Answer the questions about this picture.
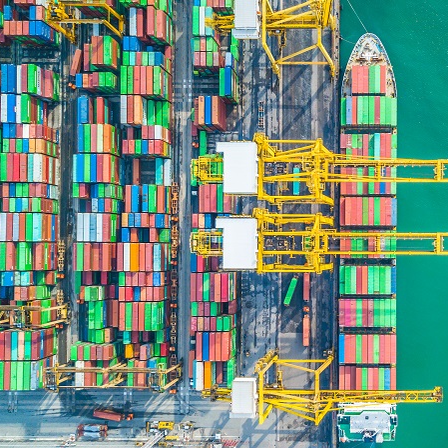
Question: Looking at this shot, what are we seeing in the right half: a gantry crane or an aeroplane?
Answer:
gantry crane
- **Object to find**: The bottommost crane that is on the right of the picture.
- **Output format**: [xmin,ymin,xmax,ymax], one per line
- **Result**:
[194,340,445,428]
